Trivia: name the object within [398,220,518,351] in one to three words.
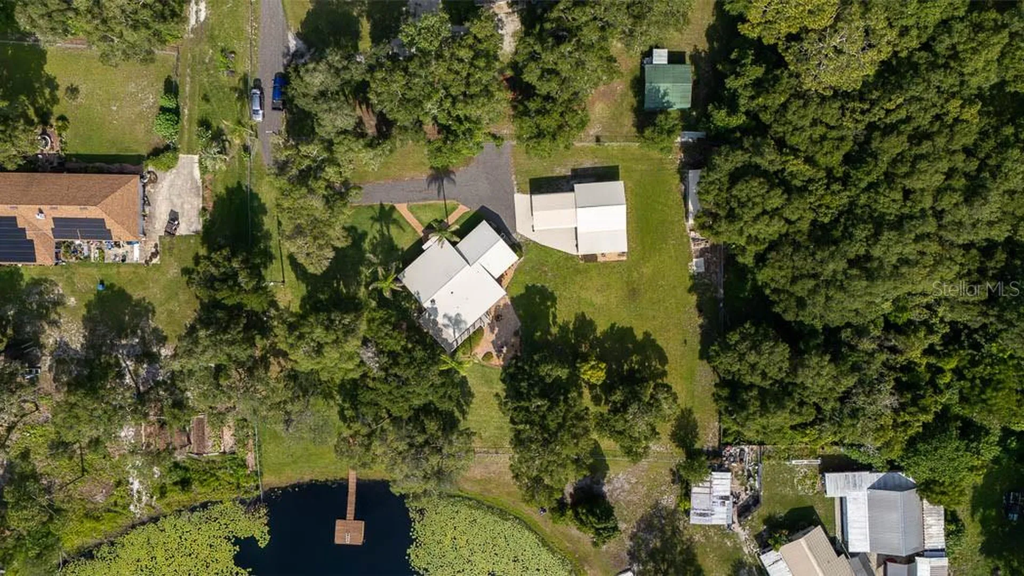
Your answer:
house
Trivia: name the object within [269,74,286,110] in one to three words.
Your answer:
vehicle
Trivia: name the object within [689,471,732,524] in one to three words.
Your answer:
shed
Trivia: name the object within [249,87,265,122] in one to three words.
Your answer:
car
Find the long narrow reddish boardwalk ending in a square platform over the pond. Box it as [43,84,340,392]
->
[334,469,365,545]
